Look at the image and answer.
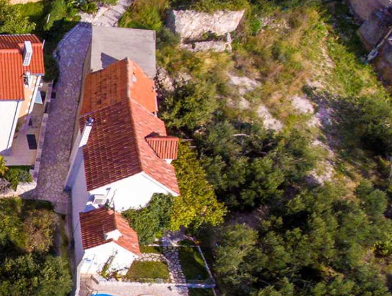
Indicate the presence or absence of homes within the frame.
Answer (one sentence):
Yes, the photo shows a home.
